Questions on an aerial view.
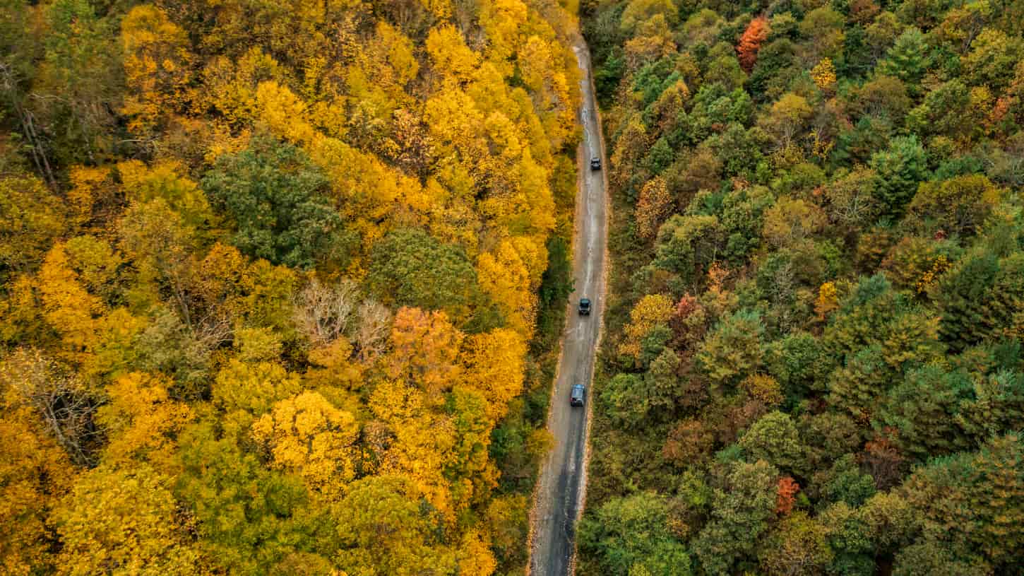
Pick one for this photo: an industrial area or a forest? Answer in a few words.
forest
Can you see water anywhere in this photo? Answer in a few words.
No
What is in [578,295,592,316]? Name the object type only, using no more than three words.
car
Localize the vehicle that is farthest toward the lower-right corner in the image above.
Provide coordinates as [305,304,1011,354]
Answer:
[570,385,585,407]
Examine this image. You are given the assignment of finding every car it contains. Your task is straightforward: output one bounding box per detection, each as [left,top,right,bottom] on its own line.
[590,155,601,170]
[578,295,592,316]
[570,385,585,407]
